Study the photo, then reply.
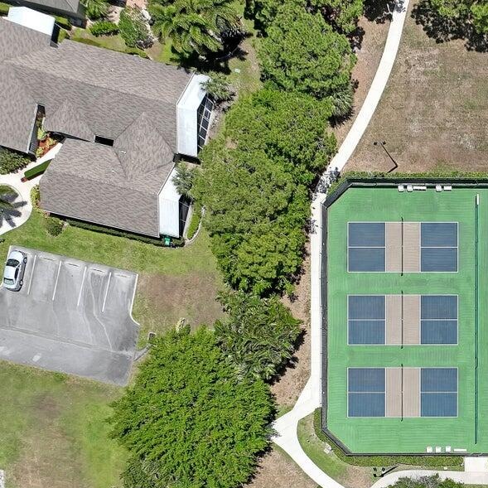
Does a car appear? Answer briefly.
Yes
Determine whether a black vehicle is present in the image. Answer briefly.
No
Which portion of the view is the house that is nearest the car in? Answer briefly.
top left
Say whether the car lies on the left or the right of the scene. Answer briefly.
left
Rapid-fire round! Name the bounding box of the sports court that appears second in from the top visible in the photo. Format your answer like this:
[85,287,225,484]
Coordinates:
[347,294,458,345]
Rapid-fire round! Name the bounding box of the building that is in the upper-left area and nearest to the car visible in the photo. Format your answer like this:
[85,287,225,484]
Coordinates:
[0,6,216,237]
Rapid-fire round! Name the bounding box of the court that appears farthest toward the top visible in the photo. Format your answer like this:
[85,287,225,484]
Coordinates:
[347,221,458,272]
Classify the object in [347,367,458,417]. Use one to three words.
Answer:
sports court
